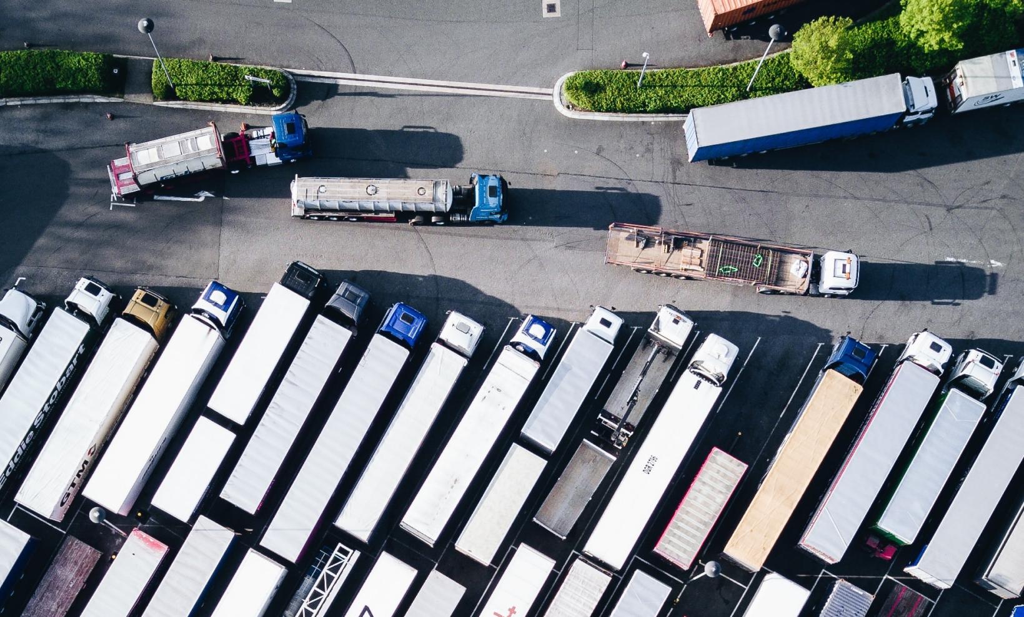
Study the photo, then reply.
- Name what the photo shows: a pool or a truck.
truck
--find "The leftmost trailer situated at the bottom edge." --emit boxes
[0,519,41,613]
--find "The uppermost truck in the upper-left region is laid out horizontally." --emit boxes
[112,109,312,193]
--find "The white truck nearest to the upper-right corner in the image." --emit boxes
[929,48,1024,117]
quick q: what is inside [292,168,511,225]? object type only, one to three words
truck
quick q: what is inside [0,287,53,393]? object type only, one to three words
truck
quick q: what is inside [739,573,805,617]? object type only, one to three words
trailer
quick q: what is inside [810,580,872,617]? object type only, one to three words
trailer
